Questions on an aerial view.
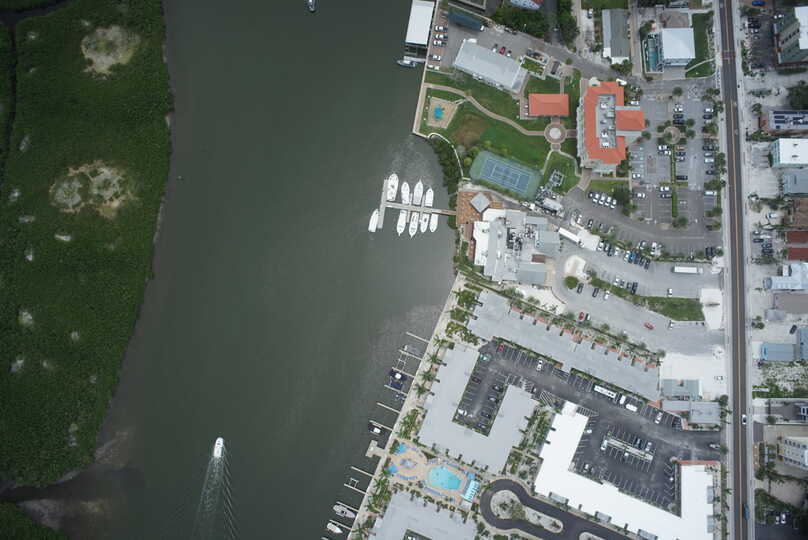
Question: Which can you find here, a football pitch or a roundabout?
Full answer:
There is a roundabout in the scene.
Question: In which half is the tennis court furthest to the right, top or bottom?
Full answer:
Seen from above, the tennis court furthest to the right lies in the top half of the view.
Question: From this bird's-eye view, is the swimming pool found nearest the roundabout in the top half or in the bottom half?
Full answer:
Seen from above, the swimming pool found nearest the roundabout lies in the bottom half of the view.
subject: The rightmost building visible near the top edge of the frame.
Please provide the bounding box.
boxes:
[763,6,808,69]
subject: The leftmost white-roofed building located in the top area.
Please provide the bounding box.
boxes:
[404,0,434,62]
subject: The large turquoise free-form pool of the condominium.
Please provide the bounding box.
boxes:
[427,463,462,491]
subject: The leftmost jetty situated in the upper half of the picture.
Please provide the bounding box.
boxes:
[377,179,451,228]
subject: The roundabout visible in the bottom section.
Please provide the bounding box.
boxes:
[477,478,529,529]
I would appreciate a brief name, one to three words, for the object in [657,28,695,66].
house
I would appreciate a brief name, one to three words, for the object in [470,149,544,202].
tennis court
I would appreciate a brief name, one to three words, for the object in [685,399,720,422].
building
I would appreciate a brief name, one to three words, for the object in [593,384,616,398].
vehicle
